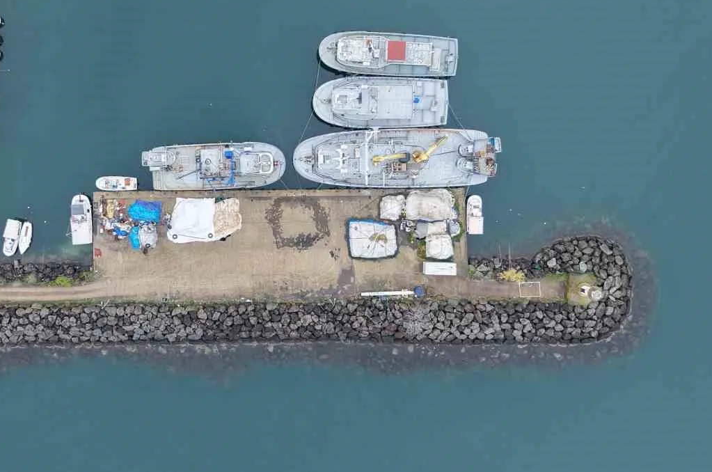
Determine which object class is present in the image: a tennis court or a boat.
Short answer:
boat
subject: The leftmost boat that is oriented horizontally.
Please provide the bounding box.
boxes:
[96,176,140,190]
